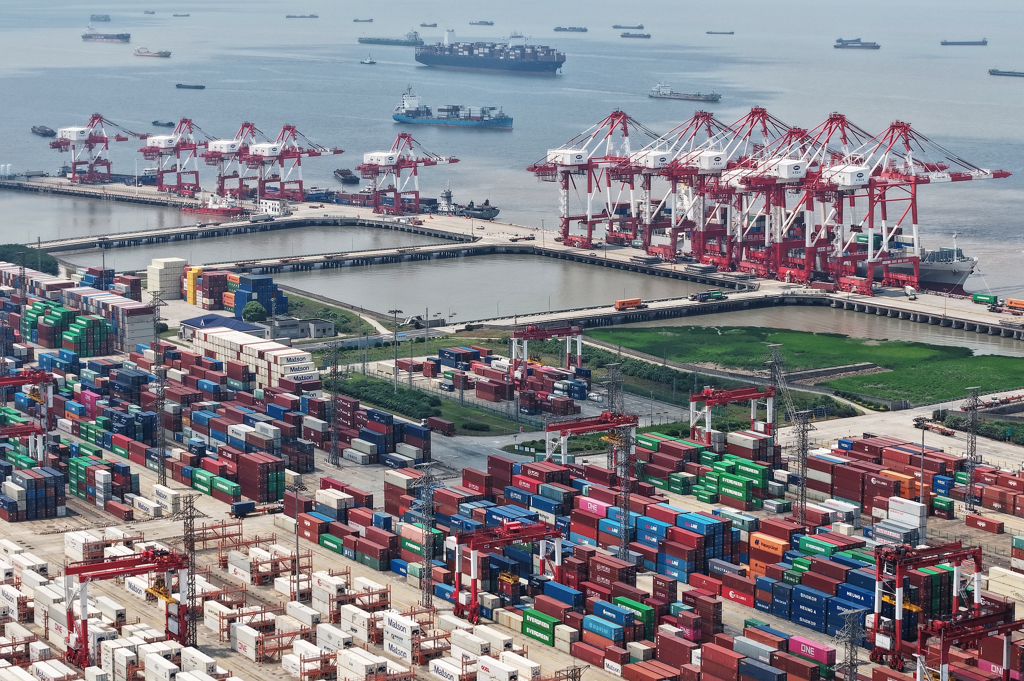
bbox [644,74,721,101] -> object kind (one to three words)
ship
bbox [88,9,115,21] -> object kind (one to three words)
ship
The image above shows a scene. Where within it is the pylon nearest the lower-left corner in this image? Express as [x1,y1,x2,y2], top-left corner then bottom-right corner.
[161,484,211,647]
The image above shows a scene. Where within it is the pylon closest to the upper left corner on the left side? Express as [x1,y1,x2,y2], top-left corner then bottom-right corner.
[8,253,38,347]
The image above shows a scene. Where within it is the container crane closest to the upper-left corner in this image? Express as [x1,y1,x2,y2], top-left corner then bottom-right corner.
[53,111,143,184]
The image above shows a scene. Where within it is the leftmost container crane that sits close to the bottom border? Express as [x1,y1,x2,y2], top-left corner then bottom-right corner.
[57,546,192,668]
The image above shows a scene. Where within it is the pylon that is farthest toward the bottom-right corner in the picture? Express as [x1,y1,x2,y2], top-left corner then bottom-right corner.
[823,609,875,681]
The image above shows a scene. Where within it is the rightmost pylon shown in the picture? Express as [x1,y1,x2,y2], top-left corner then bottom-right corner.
[957,380,990,514]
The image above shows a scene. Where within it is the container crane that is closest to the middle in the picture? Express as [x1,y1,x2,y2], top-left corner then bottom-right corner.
[509,322,589,391]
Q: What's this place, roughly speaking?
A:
port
